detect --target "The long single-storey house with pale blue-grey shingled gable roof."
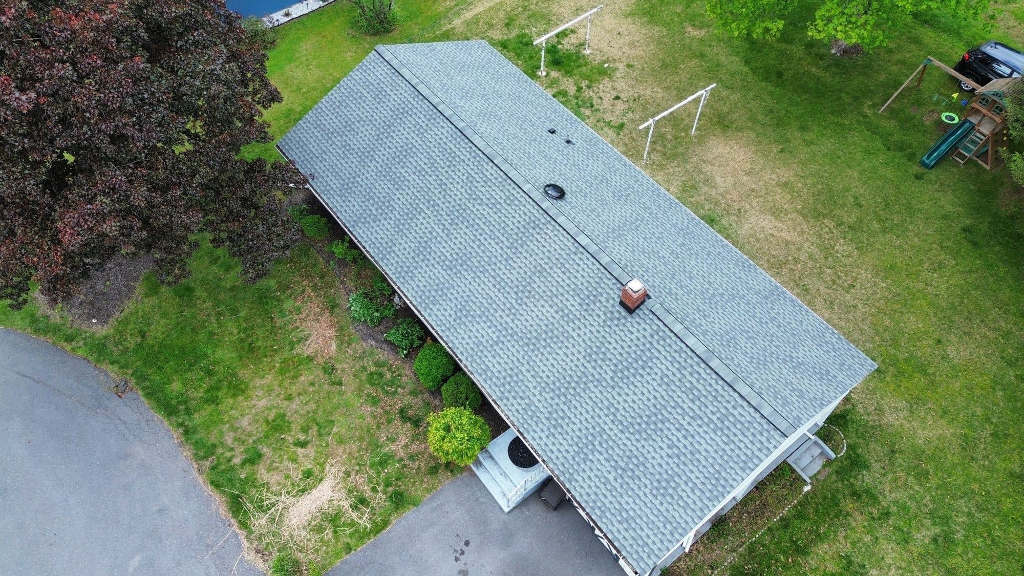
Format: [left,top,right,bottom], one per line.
[273,40,879,576]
